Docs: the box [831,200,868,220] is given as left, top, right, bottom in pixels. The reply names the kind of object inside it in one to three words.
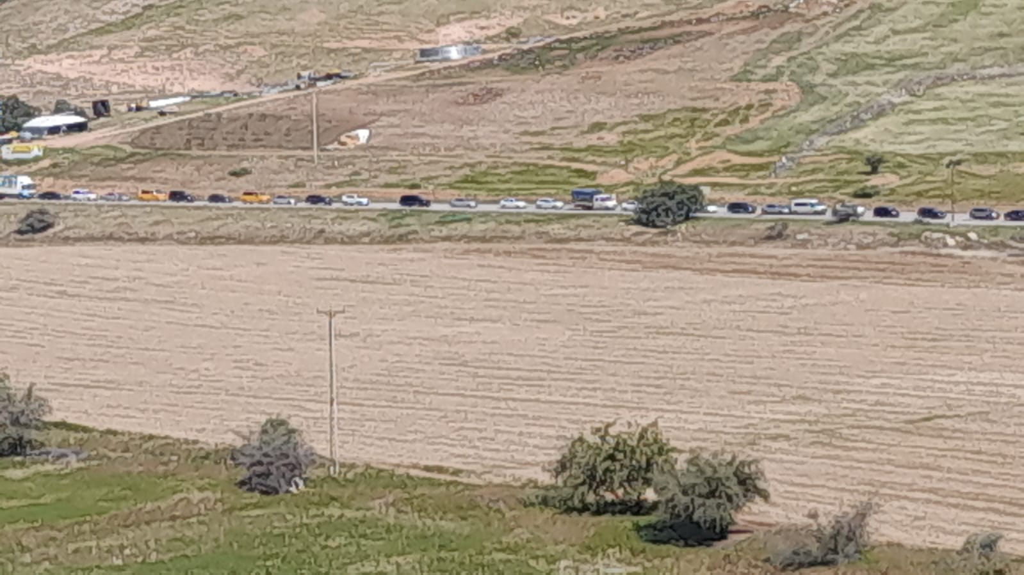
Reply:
vehicle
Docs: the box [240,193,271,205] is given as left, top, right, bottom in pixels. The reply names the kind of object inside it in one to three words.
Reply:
vehicle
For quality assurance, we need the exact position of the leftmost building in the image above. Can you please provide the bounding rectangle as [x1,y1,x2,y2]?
[20,113,92,136]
